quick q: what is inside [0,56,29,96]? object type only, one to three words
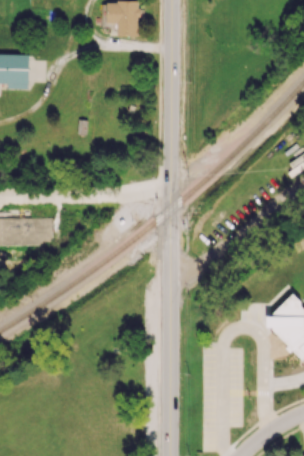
barn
